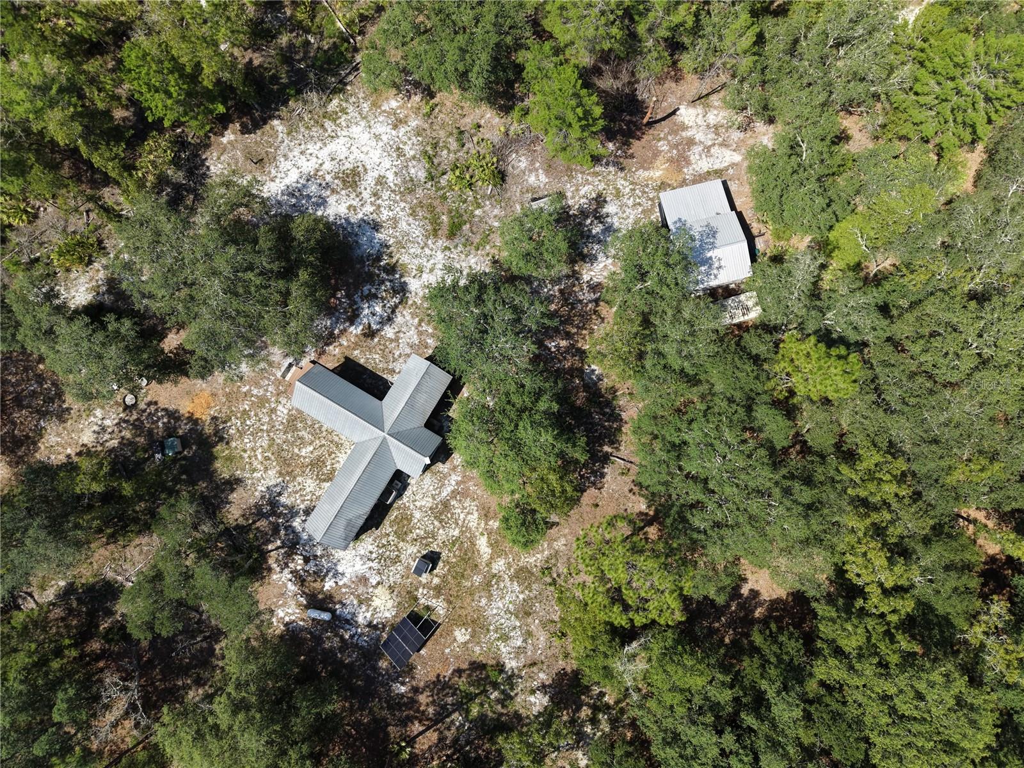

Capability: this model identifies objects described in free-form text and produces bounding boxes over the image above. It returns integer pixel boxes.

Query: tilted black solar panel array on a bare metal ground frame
[380,600,453,670]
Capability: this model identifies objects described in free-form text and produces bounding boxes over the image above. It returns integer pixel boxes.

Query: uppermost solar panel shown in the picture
[413,556,432,576]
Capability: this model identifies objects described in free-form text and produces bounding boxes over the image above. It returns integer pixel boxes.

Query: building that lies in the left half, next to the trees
[291,348,451,551]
